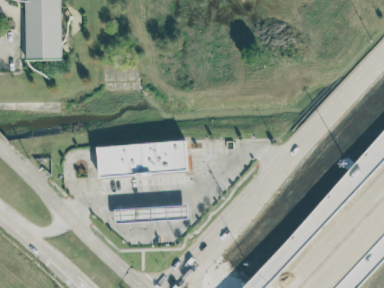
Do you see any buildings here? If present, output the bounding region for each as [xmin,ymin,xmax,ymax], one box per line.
[20,0,62,60]
[96,140,188,179]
